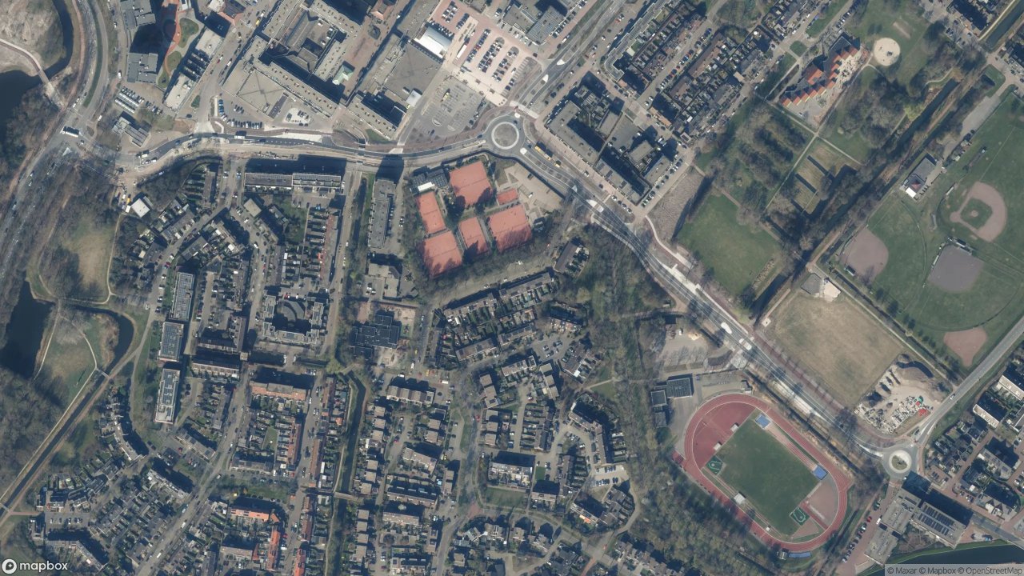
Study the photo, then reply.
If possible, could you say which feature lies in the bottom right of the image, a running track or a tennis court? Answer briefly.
running track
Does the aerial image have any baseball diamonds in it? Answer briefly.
Yes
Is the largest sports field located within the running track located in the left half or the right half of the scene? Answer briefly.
right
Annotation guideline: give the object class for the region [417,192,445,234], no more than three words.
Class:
tennis court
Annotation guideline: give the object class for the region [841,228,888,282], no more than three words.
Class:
baseball field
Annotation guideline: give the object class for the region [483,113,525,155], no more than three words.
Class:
roundabout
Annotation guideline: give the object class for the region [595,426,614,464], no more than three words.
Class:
house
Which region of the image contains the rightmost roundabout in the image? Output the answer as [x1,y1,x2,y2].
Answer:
[880,442,920,482]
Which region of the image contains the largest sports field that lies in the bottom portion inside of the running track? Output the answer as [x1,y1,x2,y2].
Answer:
[720,421,826,533]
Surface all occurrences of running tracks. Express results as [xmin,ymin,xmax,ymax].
[679,388,850,556]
